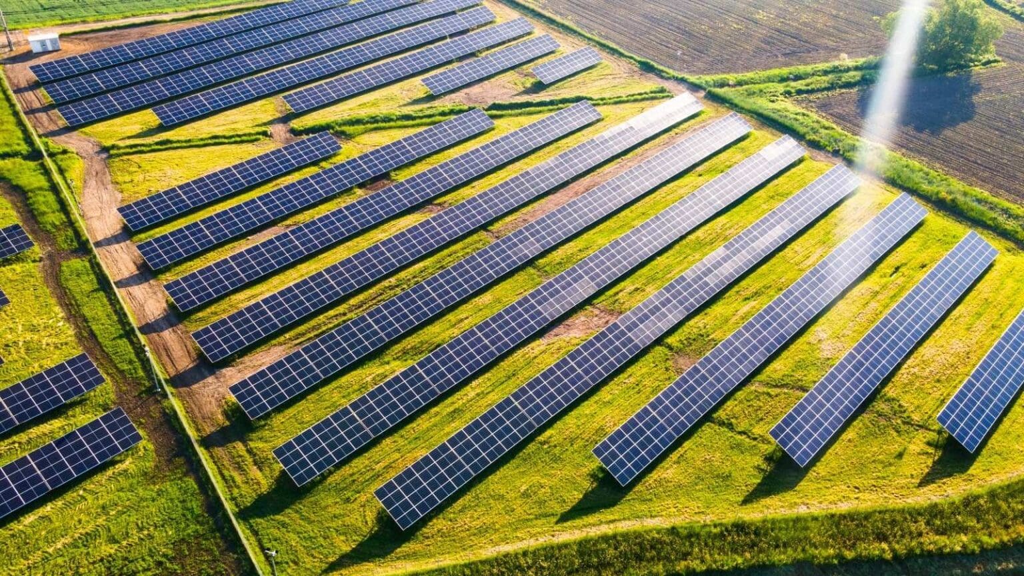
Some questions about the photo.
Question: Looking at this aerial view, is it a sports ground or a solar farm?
solar farm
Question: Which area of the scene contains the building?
top left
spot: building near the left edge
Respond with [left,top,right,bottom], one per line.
[27,31,62,53]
